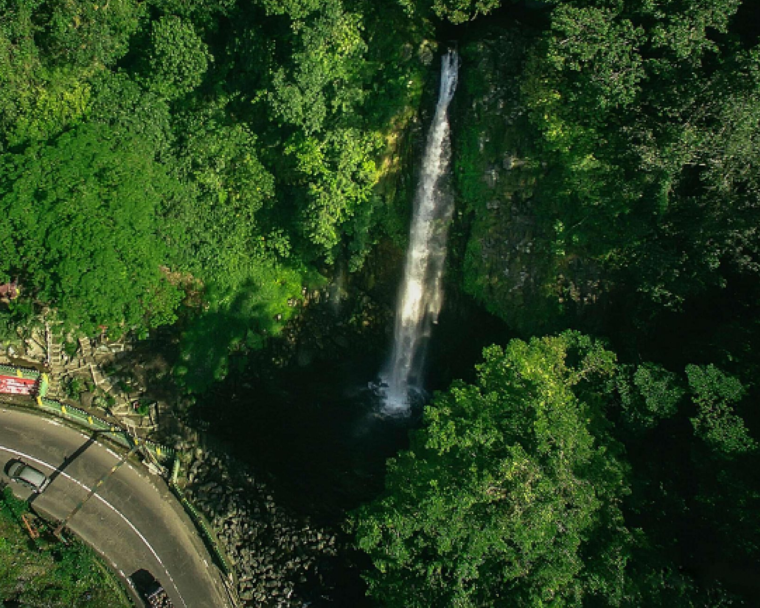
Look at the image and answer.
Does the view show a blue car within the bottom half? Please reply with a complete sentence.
No, I can find no blue car within the bottom half.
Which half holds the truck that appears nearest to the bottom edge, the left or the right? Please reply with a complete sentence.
It is on the left.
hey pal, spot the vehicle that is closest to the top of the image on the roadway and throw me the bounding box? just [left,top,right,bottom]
[7,463,52,496]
